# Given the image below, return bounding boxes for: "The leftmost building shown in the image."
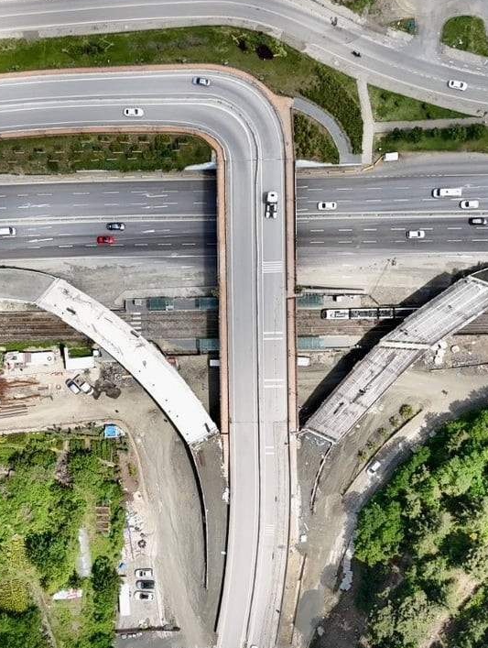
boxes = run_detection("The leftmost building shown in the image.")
[6,351,55,366]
